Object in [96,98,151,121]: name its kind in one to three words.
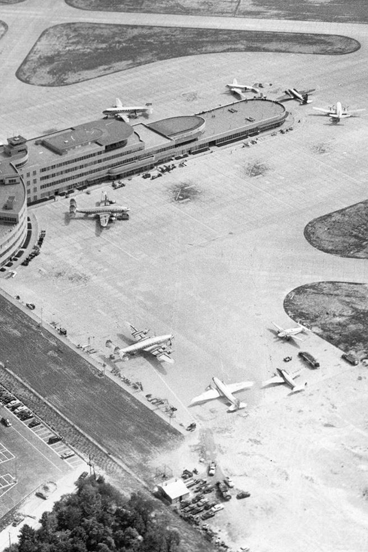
airplane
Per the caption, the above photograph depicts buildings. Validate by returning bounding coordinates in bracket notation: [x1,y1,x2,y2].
[0,99,287,274]
[157,478,191,506]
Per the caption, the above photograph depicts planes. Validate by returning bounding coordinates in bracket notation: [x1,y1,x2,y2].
[274,322,309,344]
[114,319,185,363]
[223,78,262,95]
[257,367,310,394]
[96,98,151,121]
[72,190,133,225]
[186,375,257,410]
[310,99,363,115]
[270,86,317,104]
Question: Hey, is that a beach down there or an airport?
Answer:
airport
